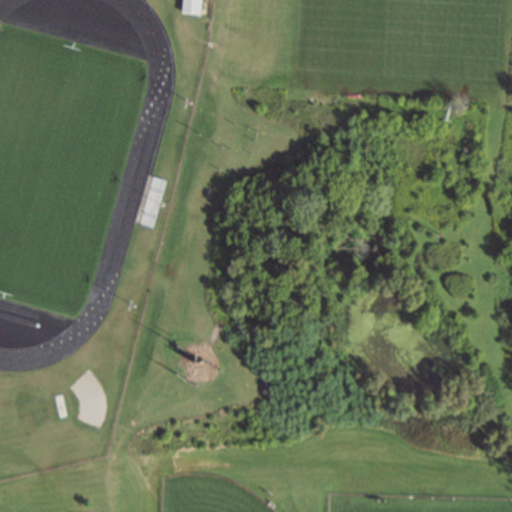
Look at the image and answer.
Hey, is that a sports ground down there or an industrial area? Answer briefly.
sports ground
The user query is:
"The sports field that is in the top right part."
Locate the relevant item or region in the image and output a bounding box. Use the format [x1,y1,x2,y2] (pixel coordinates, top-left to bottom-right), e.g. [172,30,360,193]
[289,0,507,93]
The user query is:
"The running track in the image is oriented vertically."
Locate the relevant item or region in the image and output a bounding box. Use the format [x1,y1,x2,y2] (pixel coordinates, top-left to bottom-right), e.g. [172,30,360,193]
[0,0,173,373]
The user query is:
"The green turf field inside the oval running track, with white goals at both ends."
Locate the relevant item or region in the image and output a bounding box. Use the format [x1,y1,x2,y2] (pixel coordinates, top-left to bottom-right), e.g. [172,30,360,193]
[0,22,149,321]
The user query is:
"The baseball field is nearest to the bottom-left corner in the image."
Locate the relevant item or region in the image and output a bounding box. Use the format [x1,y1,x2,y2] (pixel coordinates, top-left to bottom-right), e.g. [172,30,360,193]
[162,473,276,512]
